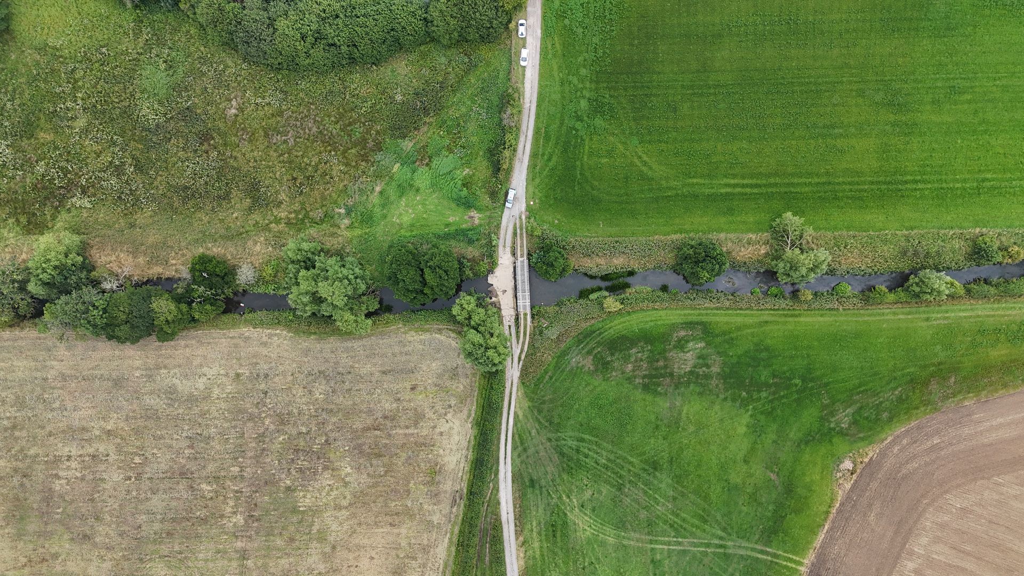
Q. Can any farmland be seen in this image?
Yes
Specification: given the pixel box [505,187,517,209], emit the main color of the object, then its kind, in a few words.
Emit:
white vehicle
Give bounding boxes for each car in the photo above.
[520,48,529,67]
[505,187,517,209]
[518,19,526,38]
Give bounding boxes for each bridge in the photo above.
[516,257,531,313]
